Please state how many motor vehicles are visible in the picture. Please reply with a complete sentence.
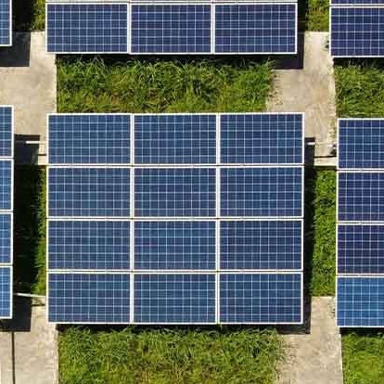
I count no motor vehicles.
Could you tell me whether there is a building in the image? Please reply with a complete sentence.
No, the picture doesn't show any building.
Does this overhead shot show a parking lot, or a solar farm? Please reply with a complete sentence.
The picture captures a solar farm.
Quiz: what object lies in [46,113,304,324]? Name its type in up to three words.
solar array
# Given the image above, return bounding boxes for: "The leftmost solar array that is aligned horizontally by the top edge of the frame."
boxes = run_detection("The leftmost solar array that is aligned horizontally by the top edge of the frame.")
[46,0,297,54]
